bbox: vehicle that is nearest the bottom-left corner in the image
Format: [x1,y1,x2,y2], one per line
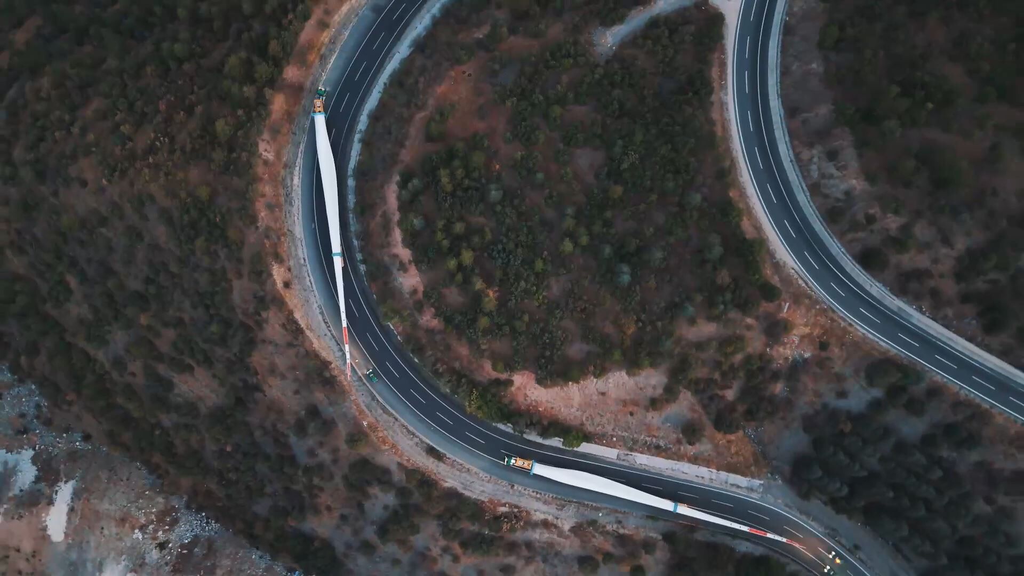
[366,369,379,385]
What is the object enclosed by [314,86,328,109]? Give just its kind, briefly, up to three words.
vehicle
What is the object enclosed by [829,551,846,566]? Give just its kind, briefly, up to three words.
vehicle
